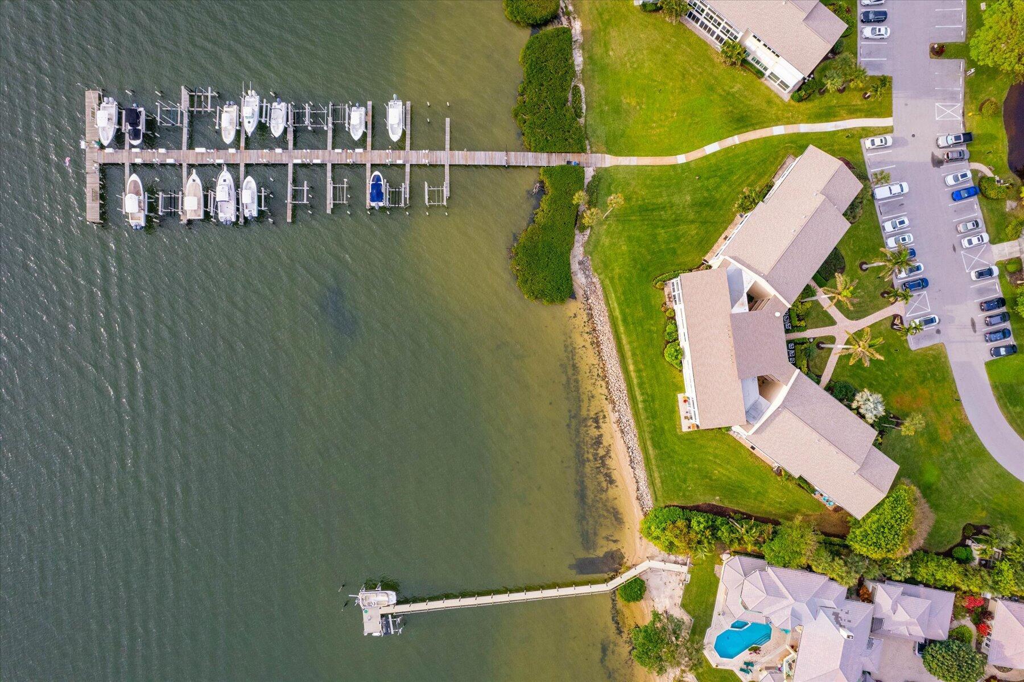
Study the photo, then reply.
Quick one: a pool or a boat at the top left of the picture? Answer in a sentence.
It is a boat that can be seen at the top left of the picture.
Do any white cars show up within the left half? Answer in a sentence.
No, the scene shows no white car within the left half.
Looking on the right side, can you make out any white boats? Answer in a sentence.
No, looking on the right side, there is no white boat.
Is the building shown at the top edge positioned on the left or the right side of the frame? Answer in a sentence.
It is on the right.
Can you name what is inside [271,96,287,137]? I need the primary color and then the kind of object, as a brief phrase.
white boat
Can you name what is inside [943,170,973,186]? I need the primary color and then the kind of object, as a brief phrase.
white car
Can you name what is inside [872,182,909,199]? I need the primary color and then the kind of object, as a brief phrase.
white vehicle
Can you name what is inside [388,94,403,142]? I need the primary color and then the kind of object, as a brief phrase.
white boat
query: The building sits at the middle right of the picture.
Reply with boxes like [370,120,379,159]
[670,145,899,520]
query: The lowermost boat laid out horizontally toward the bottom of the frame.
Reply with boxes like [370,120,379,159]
[353,592,397,606]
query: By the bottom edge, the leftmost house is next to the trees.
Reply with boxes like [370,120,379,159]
[720,555,883,682]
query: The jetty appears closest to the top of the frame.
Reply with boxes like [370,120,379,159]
[85,86,608,224]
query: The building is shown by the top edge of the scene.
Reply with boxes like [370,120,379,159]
[676,0,847,103]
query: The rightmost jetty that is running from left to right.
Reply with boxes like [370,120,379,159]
[363,558,688,634]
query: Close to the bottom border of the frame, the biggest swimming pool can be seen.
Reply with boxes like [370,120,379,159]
[712,621,774,661]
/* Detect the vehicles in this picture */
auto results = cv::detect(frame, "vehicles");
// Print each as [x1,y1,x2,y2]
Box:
[943,170,973,186]
[911,637,927,662]
[900,276,929,291]
[954,219,983,234]
[880,217,910,232]
[959,233,989,249]
[859,9,888,24]
[982,327,1012,343]
[950,186,980,202]
[889,247,916,260]
[894,263,924,279]
[982,311,1011,327]
[908,313,939,329]
[941,149,970,163]
[855,668,876,682]
[935,132,974,148]
[860,26,890,41]
[872,182,909,199]
[988,343,1018,358]
[968,265,999,281]
[863,135,892,150]
[884,233,914,248]
[977,297,1007,312]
